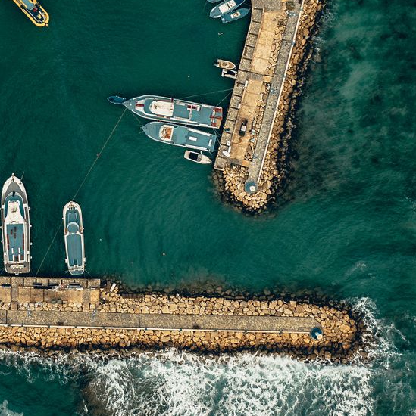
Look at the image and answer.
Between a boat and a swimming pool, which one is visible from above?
boat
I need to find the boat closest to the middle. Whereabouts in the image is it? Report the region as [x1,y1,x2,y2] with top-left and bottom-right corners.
[182,150,211,163]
